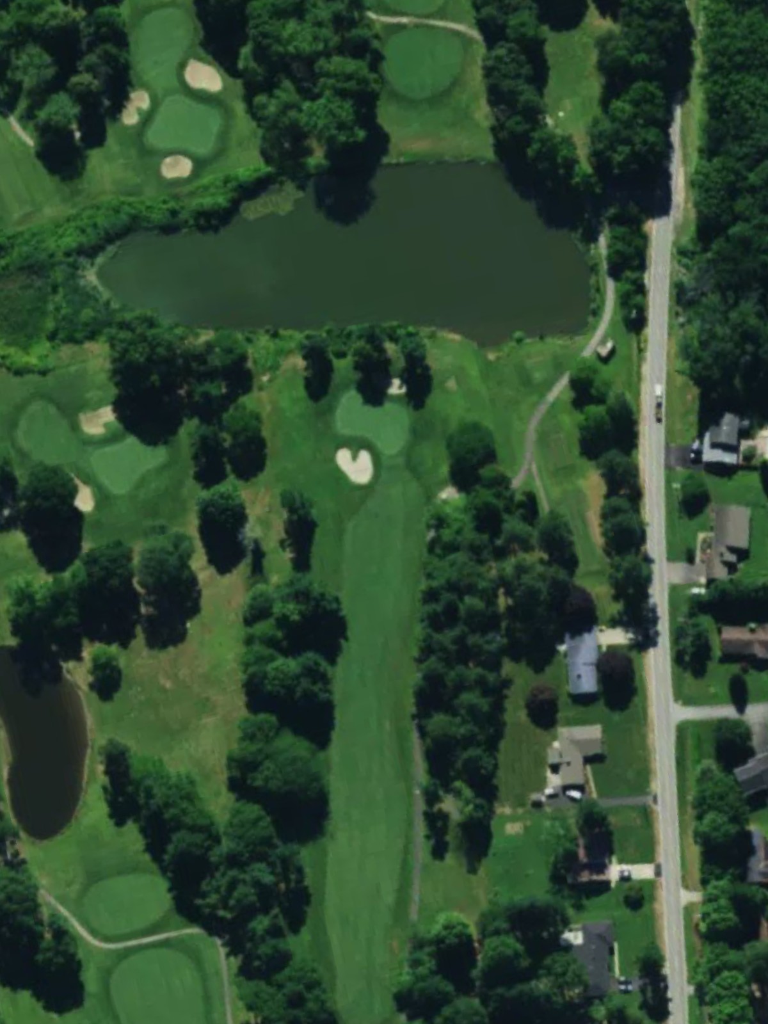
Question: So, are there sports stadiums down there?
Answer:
No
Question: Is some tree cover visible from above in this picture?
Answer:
Yes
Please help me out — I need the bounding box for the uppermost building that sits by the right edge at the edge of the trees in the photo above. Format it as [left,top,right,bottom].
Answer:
[702,413,739,464]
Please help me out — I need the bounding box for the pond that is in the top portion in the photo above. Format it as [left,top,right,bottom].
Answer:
[94,161,590,348]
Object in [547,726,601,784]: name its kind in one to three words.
house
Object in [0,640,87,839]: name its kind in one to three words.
pond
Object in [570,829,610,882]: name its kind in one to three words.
house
